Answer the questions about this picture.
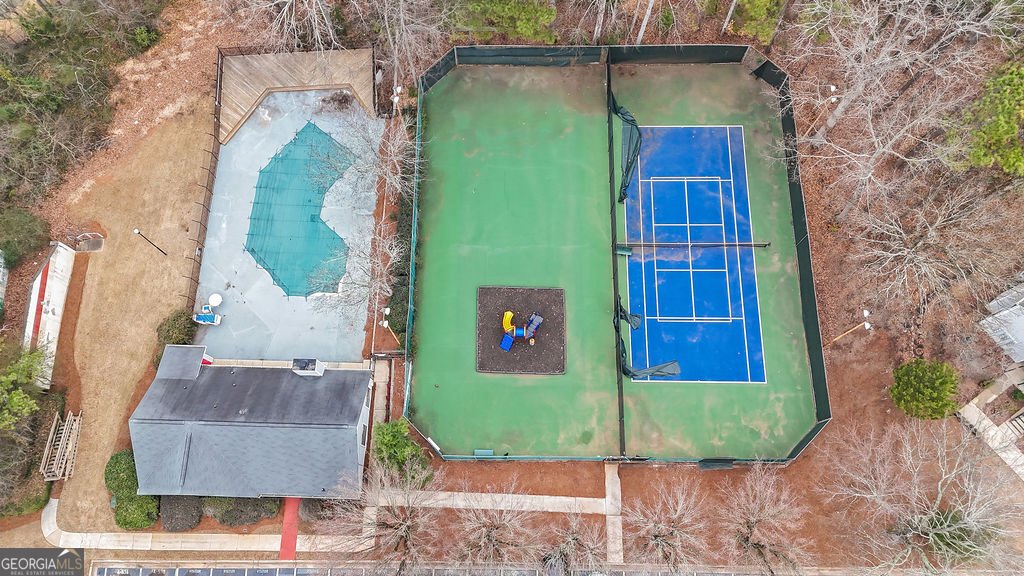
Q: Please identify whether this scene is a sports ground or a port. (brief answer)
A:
sports ground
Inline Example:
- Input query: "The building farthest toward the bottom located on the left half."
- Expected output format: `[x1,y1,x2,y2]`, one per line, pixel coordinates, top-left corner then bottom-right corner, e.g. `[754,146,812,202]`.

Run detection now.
[129,344,376,500]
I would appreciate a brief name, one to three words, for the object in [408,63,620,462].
sports court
